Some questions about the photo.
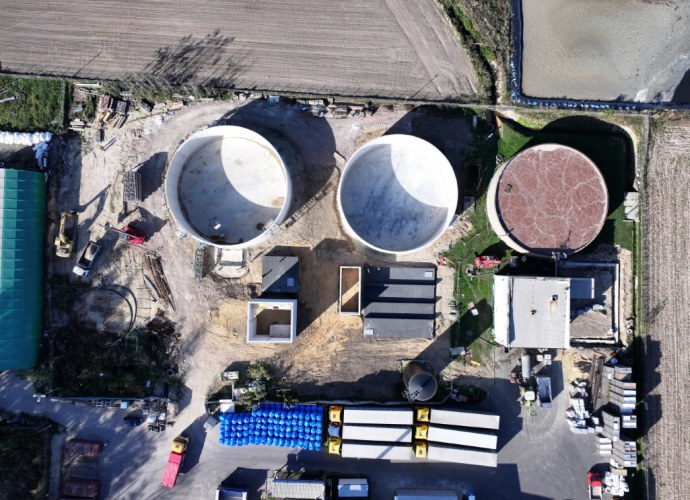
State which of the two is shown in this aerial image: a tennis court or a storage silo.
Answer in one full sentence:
I can see a storage silo in this picture.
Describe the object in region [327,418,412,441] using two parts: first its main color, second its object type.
white truck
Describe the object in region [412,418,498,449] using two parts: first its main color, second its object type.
white truck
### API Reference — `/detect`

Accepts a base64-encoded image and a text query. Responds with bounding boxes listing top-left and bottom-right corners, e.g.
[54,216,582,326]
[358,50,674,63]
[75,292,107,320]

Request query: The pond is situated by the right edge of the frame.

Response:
[511,0,690,111]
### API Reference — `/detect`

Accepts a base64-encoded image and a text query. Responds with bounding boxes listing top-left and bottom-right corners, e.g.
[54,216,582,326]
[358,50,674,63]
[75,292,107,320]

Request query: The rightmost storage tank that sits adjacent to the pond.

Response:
[487,144,608,256]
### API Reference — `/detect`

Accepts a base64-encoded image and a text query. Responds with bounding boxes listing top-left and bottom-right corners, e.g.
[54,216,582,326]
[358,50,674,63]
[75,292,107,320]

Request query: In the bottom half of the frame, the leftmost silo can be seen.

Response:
[400,358,437,402]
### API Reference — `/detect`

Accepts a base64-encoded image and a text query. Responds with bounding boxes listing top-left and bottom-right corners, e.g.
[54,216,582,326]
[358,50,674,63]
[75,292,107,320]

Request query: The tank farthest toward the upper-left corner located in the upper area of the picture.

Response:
[166,125,293,247]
